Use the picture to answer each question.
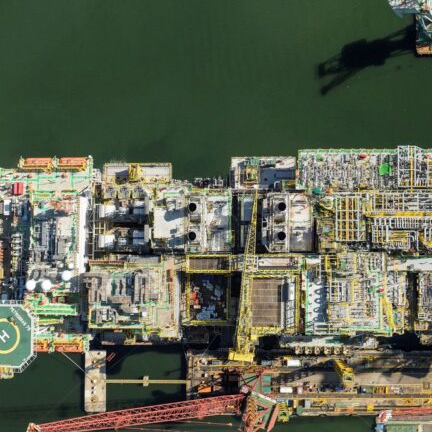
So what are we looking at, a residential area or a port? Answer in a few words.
port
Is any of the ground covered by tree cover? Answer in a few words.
No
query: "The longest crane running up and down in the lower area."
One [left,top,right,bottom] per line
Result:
[229,189,265,366]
